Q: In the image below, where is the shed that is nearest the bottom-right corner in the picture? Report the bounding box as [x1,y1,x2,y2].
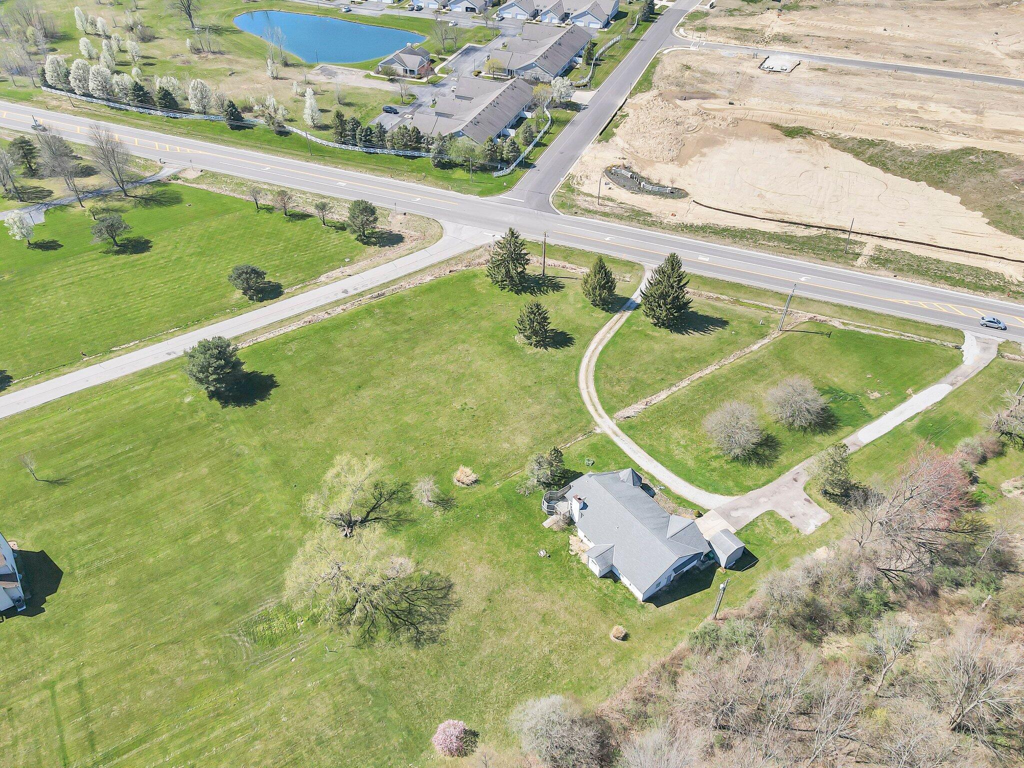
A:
[709,529,746,567]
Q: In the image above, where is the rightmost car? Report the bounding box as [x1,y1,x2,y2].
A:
[981,315,1008,328]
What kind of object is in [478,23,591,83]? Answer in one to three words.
house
